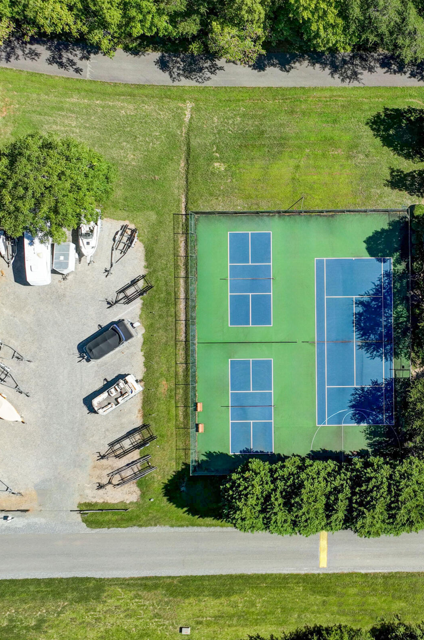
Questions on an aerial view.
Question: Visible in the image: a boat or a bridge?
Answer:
boat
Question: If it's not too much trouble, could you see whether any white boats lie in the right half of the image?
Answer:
No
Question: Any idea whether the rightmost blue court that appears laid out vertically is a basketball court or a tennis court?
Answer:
tennis court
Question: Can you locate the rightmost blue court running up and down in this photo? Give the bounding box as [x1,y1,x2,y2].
[315,257,395,426]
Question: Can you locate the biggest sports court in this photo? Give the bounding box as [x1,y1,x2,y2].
[196,213,411,476]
